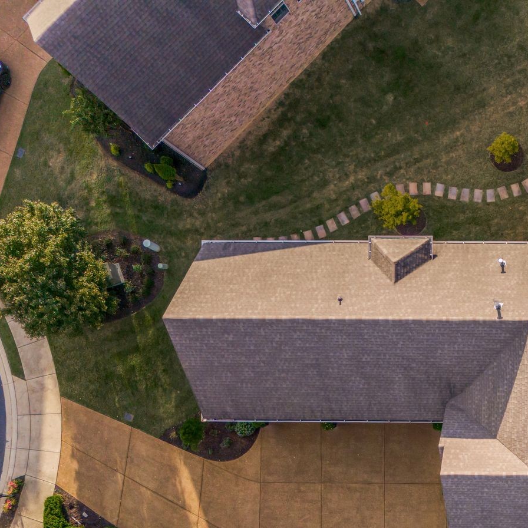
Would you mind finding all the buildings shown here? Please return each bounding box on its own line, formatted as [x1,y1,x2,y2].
[22,0,371,167]
[167,233,528,528]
